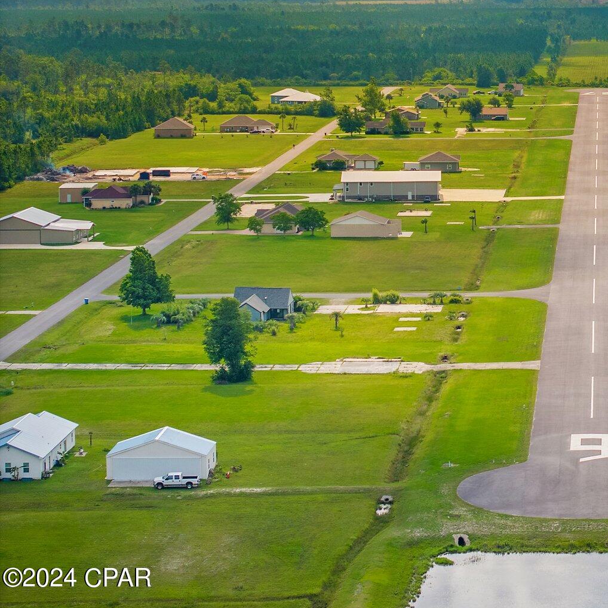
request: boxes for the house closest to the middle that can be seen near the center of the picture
[234,288,294,320]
